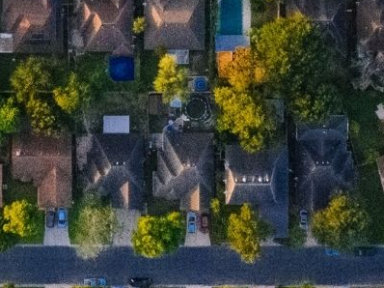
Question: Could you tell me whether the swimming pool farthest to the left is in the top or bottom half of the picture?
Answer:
top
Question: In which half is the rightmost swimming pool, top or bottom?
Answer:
top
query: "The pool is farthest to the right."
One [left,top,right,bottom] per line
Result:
[218,0,244,36]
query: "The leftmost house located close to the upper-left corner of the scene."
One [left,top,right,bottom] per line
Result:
[0,0,63,53]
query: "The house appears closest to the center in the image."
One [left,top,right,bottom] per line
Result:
[152,132,215,215]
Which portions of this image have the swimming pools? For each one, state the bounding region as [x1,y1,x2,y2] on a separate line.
[218,0,244,36]
[194,77,206,91]
[110,56,134,81]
